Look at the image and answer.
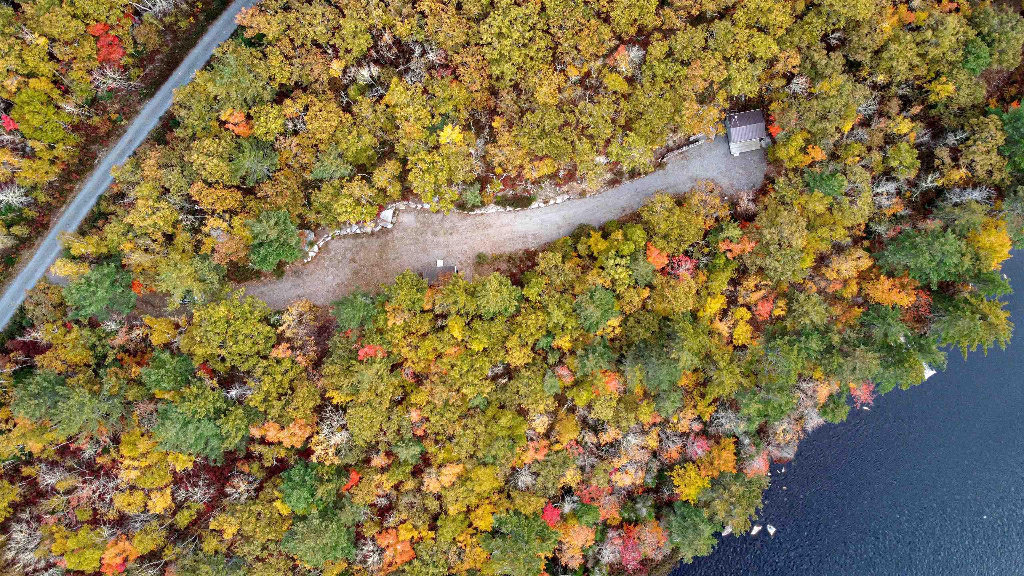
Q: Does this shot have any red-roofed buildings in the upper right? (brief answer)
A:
No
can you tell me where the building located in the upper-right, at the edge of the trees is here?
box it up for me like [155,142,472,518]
[722,109,767,161]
